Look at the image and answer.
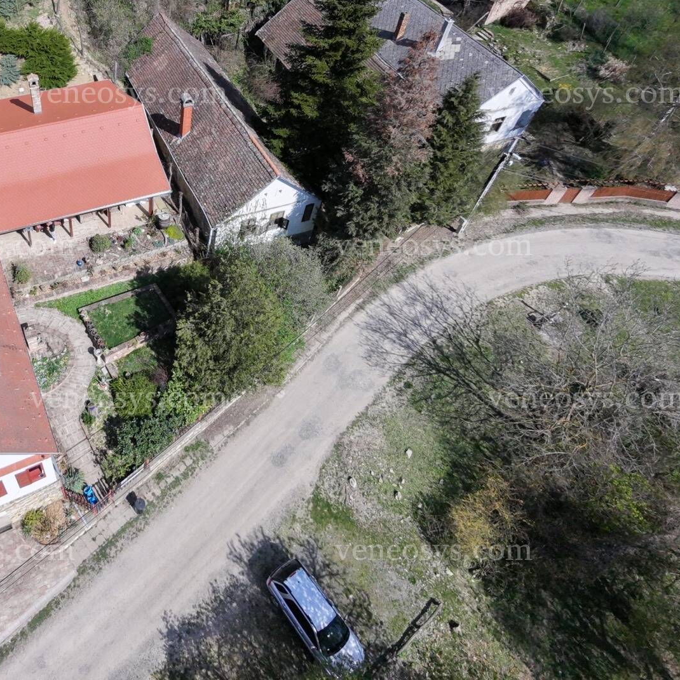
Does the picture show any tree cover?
Yes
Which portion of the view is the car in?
bottom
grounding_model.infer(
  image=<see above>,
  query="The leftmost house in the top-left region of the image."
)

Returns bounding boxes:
[0,70,171,247]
